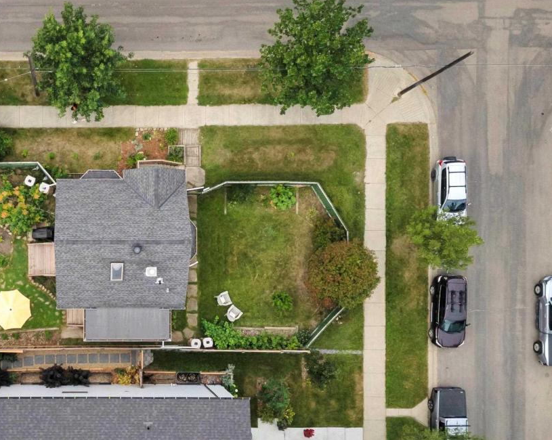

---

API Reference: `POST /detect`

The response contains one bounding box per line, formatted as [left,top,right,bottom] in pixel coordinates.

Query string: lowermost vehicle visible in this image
[428,385,472,440]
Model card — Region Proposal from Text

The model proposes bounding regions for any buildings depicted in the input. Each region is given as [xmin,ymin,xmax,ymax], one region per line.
[0,380,258,440]
[53,159,203,348]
